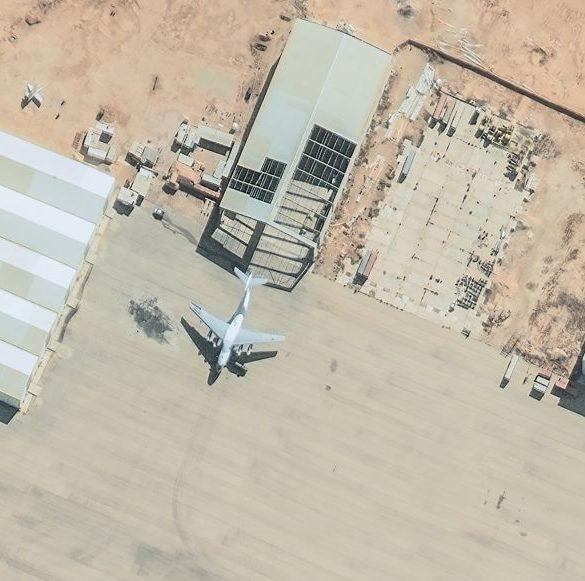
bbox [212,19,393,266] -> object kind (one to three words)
hangar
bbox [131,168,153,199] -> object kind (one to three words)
building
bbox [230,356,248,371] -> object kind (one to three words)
vehicle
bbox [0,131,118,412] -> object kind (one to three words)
warehouse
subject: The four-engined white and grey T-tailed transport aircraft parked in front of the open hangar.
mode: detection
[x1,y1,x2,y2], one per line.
[189,267,283,374]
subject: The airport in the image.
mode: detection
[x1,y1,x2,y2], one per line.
[0,205,585,581]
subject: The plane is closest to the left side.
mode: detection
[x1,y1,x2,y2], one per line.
[21,84,47,105]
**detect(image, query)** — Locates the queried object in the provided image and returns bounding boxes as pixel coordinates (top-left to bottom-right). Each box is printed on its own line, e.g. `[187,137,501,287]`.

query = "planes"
[21,84,47,105]
[189,267,283,374]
